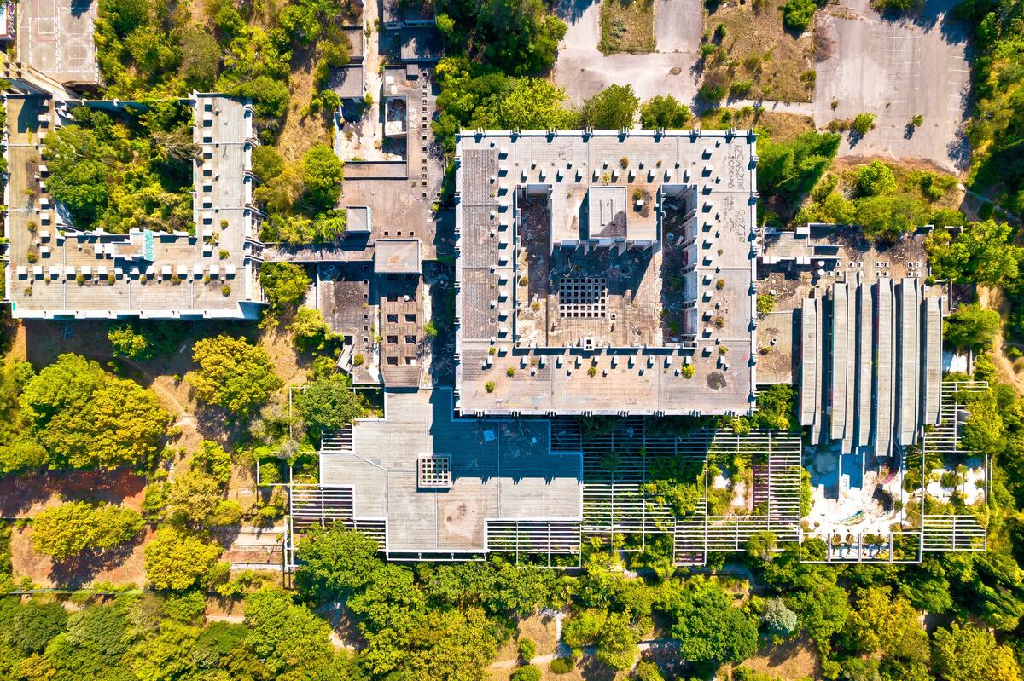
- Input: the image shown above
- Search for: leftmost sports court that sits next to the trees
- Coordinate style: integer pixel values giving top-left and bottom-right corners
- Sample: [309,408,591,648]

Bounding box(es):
[15,0,97,81]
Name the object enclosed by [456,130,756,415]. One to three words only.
building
